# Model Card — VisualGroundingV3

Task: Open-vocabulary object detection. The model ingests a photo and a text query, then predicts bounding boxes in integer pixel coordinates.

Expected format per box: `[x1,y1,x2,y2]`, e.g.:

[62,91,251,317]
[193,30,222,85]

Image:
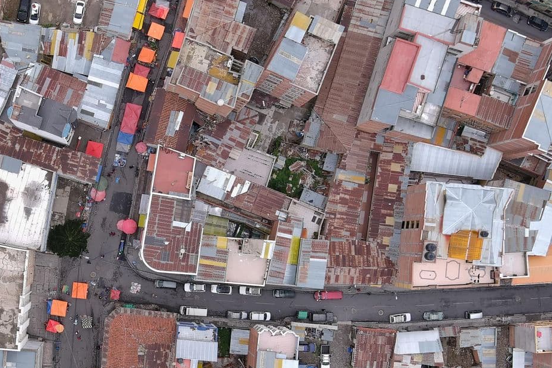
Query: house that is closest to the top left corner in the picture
[0,25,42,74]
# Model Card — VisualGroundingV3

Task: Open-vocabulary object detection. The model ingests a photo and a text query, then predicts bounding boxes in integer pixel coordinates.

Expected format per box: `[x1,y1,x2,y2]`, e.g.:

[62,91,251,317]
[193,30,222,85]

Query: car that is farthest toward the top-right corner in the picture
[526,16,550,30]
